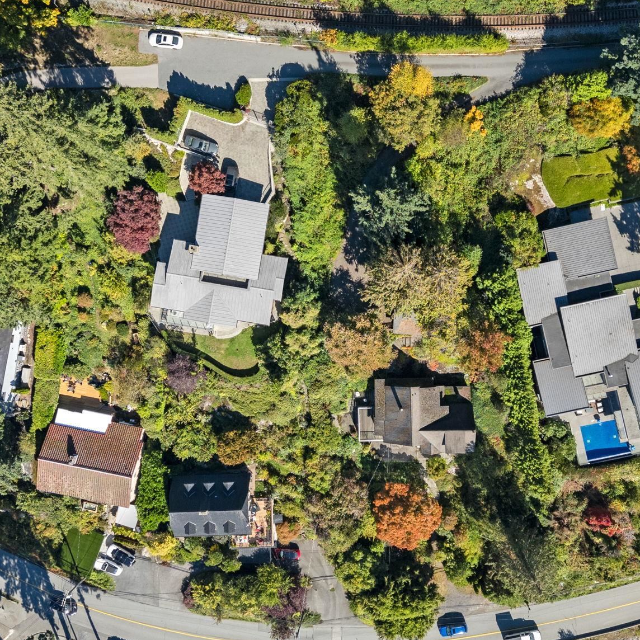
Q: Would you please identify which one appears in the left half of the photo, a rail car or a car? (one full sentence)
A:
There is a car in the left half of the photo.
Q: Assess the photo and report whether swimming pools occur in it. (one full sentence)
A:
Yes, a swimming pool can be made out from above.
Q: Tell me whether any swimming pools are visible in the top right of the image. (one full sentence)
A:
No, the scene shows no swimming pool in the top right of the image.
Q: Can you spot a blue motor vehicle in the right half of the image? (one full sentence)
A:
Yes, I can see a blue motor vehicle in the right half of the image.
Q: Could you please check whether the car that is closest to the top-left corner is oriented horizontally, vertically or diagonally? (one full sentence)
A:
The car that is closest to the top-left corner has been laid out horizontally relative to the frame.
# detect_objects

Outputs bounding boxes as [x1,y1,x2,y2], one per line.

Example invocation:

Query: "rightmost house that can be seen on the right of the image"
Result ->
[516,216,640,442]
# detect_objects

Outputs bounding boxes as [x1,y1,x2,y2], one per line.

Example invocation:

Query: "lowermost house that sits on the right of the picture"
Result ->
[375,377,476,455]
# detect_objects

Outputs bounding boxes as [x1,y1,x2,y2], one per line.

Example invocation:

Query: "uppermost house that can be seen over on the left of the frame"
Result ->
[151,194,289,329]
